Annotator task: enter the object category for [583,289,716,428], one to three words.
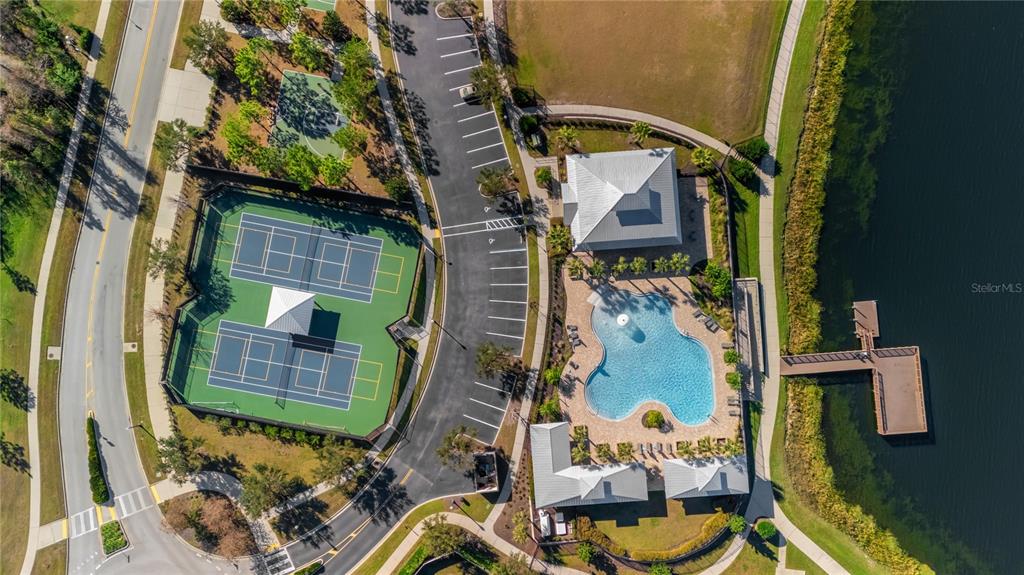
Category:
swimming pool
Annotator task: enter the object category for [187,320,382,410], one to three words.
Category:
tennis court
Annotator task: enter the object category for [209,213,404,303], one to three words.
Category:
tennis court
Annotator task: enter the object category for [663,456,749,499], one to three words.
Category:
building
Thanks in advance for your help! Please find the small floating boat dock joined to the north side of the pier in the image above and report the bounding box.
[852,300,879,351]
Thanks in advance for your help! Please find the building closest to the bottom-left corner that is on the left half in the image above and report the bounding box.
[265,287,316,335]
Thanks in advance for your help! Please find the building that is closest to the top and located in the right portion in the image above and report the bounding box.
[562,147,682,251]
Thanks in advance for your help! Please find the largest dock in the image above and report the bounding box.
[780,346,930,436]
